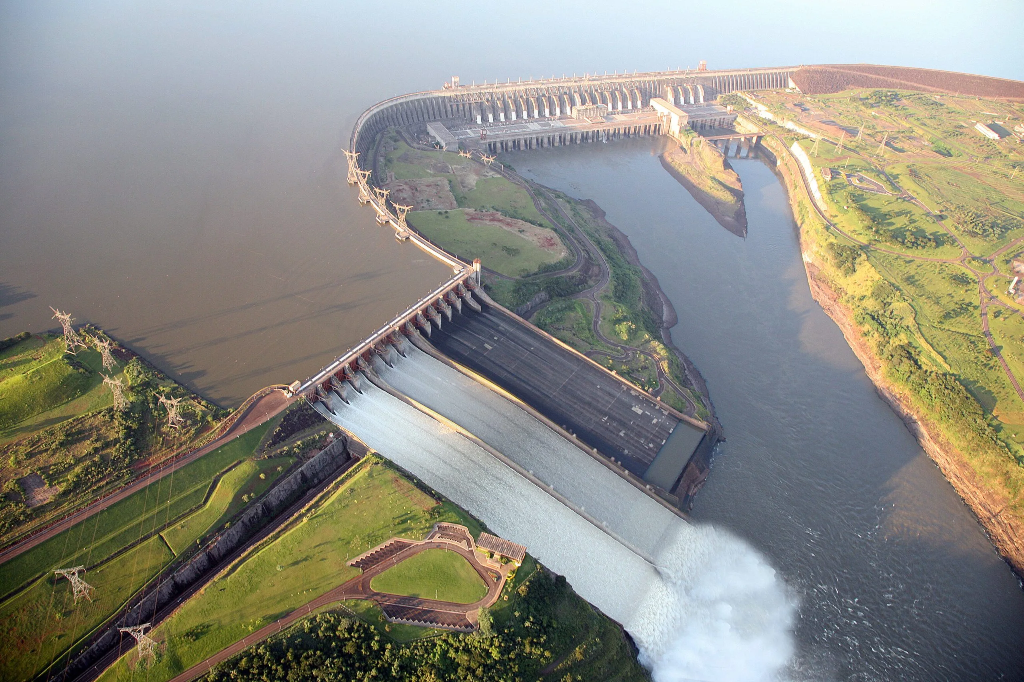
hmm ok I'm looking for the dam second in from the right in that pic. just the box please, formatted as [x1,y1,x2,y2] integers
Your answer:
[697,63,812,99]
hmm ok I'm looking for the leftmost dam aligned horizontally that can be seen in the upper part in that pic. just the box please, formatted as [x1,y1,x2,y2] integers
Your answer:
[451,69,708,125]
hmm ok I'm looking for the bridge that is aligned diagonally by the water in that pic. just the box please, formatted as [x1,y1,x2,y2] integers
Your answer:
[291,269,473,400]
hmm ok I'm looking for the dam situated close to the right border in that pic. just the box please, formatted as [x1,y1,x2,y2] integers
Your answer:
[802,63,1024,111]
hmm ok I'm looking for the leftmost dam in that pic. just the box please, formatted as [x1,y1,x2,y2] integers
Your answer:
[348,87,473,272]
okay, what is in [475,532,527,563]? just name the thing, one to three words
building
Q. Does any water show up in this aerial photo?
Yes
